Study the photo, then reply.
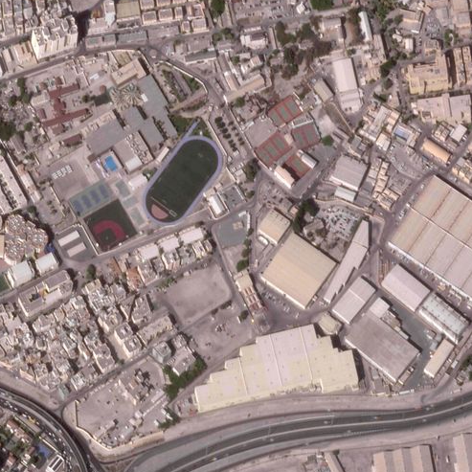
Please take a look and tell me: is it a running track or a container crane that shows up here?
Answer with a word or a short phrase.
running track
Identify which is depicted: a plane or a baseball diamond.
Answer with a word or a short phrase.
baseball diamond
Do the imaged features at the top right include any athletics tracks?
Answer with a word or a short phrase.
No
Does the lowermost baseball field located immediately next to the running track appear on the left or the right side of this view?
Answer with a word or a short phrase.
left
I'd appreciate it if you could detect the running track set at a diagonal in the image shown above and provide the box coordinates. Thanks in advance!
[144,122,223,223]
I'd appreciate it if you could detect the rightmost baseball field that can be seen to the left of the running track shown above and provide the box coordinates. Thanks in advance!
[74,198,137,254]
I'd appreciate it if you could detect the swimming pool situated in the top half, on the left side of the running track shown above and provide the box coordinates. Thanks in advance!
[103,152,121,172]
